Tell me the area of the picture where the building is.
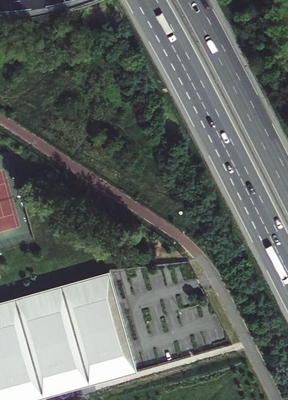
bottom left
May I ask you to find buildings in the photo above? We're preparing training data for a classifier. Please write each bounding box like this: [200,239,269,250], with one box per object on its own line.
[0,272,136,400]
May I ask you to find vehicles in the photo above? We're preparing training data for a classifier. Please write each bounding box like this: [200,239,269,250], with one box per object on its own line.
[225,162,234,175]
[272,234,280,246]
[266,245,288,285]
[165,350,171,362]
[246,182,254,195]
[191,2,200,14]
[206,116,215,129]
[220,132,230,144]
[274,218,283,230]
[200,0,210,10]
[158,13,178,44]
